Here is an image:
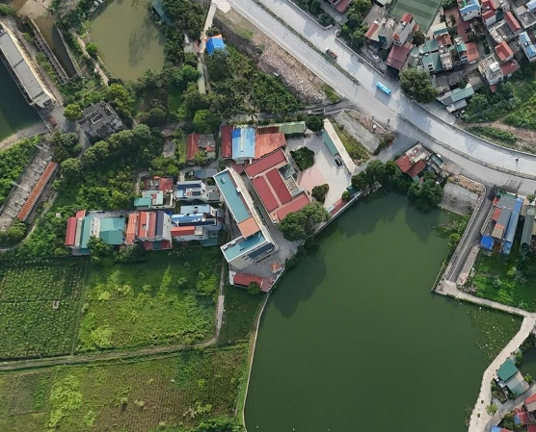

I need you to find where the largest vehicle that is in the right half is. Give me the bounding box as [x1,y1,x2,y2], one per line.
[374,80,392,95]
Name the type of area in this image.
residential area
